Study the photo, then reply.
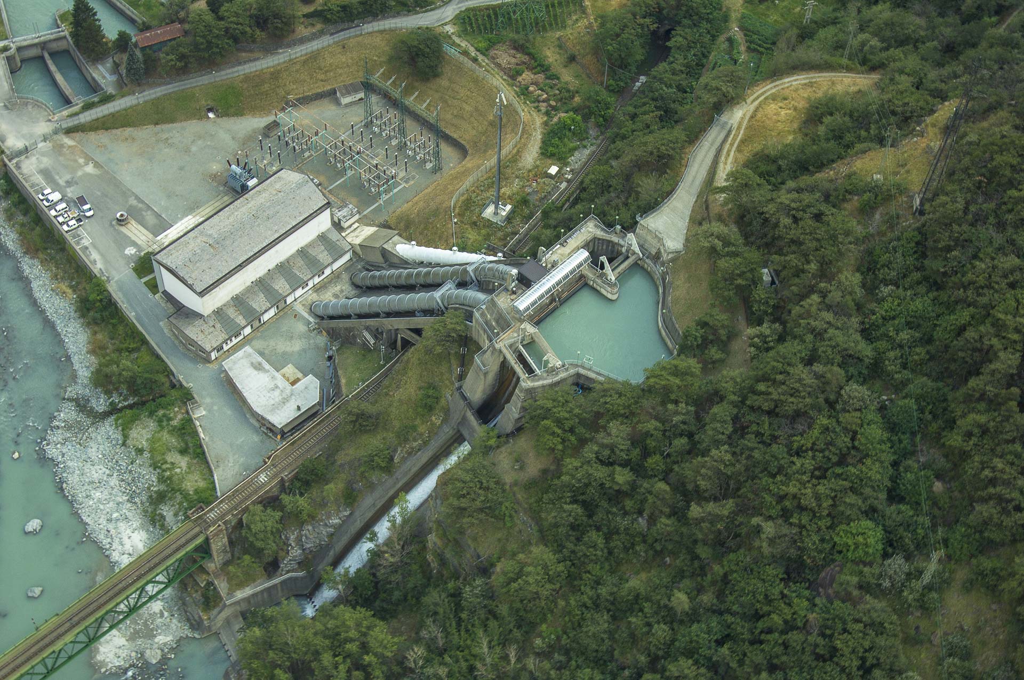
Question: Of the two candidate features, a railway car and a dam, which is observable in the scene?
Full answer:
Visible in the photo is a dam.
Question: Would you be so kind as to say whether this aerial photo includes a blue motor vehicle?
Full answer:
No, I can't see a single blue motor vehicle in this photo.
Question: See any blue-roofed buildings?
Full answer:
No, the frame has no blue-roofed building in it.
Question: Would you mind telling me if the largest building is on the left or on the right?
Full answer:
It is on the left.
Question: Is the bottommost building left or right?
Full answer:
The bottommost building appears in the left half of the scene.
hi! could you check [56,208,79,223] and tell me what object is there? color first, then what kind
white vehicle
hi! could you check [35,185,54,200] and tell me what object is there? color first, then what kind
white car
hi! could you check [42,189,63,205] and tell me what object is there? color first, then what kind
white vehicle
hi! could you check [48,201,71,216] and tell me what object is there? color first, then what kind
white car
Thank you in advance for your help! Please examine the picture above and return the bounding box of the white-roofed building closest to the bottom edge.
[222,346,320,438]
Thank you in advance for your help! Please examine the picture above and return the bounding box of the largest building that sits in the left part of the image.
[145,168,340,346]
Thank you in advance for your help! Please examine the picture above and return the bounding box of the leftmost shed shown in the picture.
[135,22,182,48]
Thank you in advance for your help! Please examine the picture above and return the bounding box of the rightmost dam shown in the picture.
[455,213,683,443]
